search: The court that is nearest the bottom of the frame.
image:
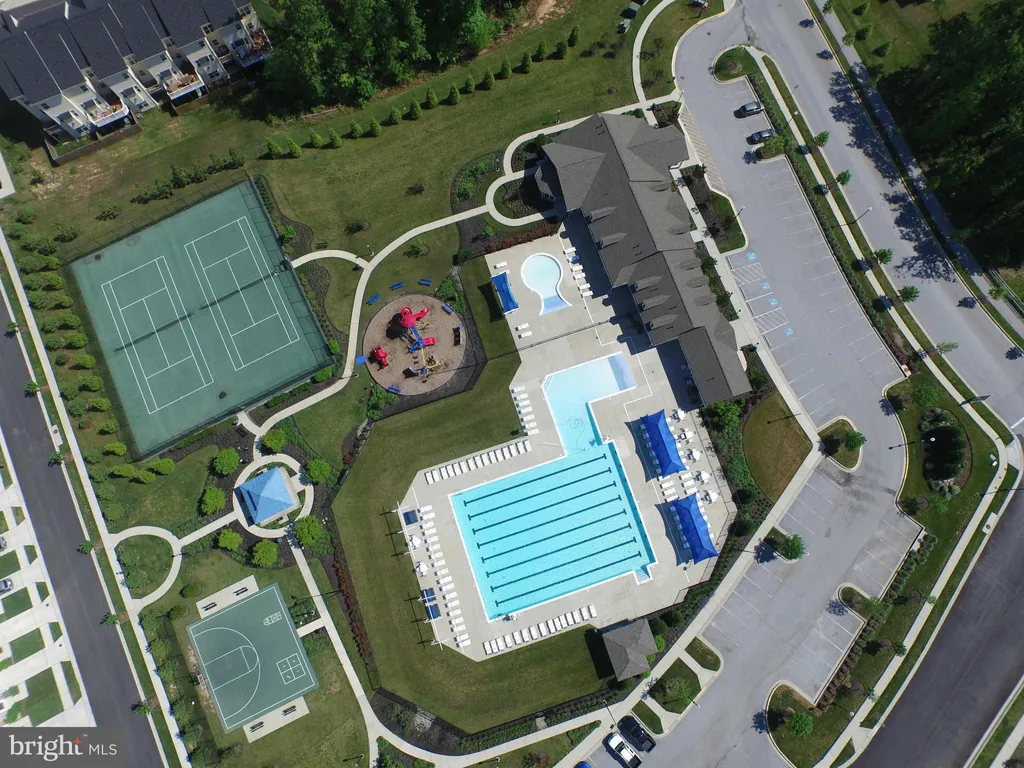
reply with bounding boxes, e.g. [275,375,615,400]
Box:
[186,583,319,735]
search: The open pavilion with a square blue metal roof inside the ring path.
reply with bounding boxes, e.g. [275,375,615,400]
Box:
[238,466,301,527]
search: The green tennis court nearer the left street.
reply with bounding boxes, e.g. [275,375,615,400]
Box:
[71,221,238,456]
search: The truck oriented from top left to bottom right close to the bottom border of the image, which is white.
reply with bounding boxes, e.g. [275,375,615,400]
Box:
[602,728,642,768]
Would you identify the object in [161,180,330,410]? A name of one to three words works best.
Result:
tennis court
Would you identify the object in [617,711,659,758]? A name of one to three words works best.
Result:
truck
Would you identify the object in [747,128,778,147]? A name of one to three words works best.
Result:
car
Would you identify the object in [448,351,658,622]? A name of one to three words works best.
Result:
swimming pool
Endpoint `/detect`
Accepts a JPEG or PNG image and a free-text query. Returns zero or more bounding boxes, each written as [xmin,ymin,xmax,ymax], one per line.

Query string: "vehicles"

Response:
[602,728,642,768]
[747,128,778,147]
[0,535,14,552]
[617,711,659,758]
[733,99,765,119]
[0,576,17,594]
